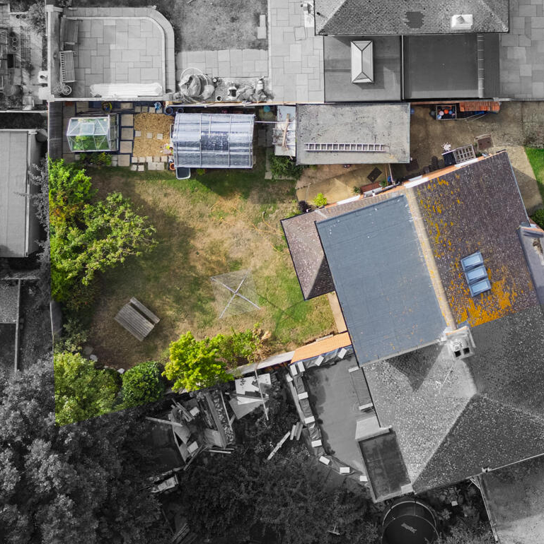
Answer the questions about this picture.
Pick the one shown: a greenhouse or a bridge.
greenhouse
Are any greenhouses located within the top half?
Yes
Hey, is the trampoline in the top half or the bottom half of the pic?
bottom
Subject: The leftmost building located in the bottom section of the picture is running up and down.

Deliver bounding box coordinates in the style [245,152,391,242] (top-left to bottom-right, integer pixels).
[210,384,237,447]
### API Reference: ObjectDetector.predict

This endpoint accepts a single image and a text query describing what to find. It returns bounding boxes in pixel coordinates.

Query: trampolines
[382,497,439,544]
